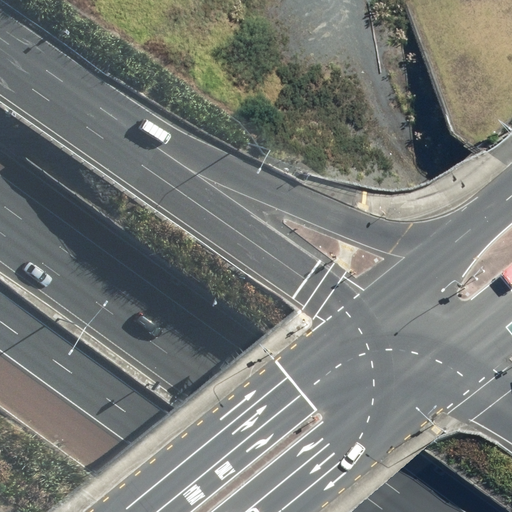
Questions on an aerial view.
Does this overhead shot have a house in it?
No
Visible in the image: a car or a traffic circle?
car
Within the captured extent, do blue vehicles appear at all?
No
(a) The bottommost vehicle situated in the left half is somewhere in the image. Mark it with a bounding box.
[134,312,164,336]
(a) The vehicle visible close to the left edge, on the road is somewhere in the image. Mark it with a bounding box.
[23,262,53,287]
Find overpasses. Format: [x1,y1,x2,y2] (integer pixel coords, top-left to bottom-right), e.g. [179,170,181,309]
[46,310,512,512]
